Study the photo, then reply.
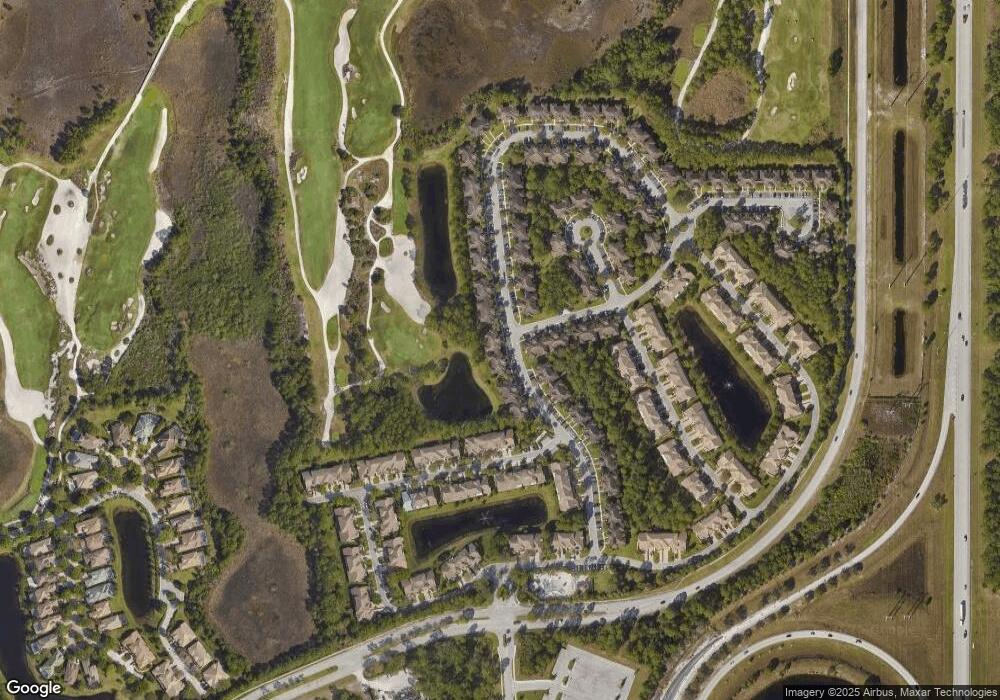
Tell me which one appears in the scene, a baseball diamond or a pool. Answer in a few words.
pool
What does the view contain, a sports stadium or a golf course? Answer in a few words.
golf course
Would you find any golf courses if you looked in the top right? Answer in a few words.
Yes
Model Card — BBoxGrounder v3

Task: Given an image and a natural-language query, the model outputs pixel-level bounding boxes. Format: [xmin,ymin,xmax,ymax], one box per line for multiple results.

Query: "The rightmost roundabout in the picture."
[779,197,814,237]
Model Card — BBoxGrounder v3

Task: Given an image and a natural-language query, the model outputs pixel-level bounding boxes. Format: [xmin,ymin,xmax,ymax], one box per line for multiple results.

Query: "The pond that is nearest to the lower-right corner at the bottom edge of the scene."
[757,674,867,700]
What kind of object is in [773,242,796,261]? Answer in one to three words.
house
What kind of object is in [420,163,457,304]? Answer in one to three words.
pond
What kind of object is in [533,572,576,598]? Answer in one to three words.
swimming pool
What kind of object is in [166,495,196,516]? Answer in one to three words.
house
